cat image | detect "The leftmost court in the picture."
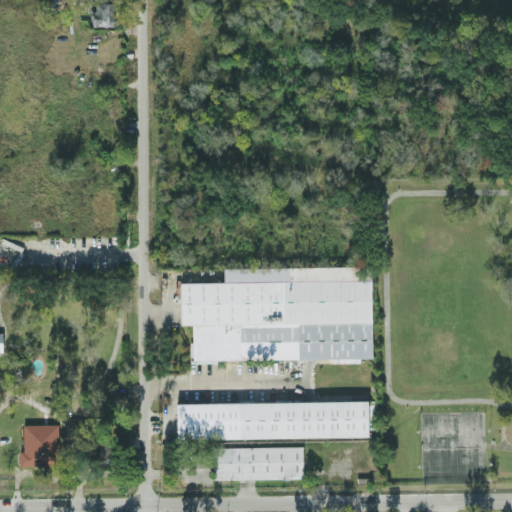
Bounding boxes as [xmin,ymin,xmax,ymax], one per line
[422,412,487,485]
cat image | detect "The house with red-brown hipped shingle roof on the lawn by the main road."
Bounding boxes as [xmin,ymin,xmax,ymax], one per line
[18,426,60,468]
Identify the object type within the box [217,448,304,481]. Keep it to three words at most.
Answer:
shed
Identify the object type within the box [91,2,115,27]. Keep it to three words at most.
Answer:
house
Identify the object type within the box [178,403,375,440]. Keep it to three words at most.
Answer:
shed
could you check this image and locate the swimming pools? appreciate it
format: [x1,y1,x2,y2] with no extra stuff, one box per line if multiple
[30,354,48,380]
